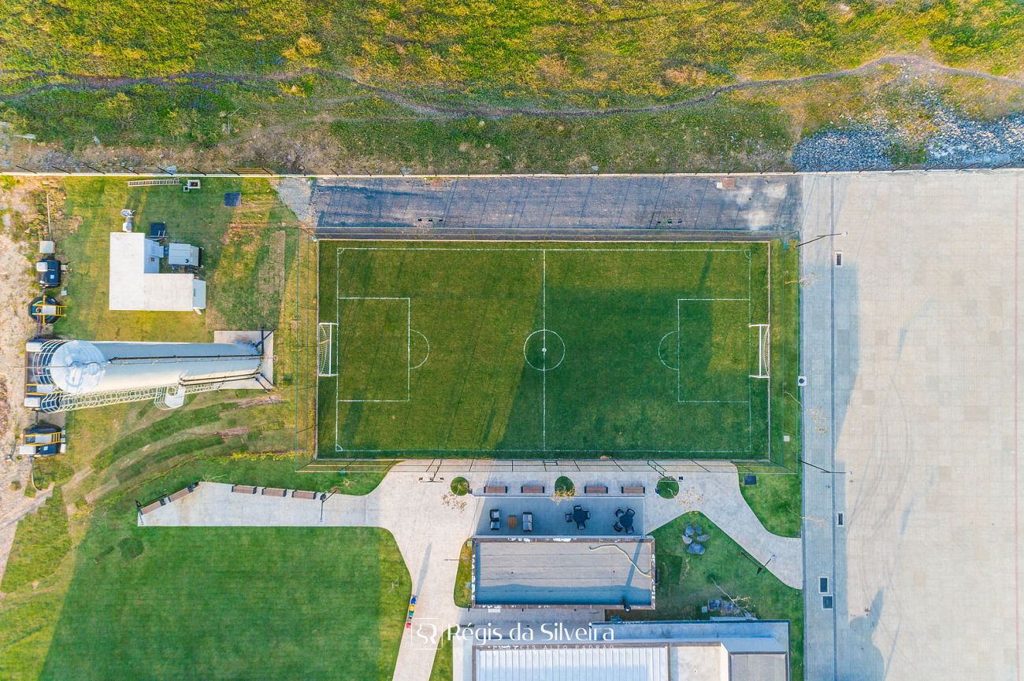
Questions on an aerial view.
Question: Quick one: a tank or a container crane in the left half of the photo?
tank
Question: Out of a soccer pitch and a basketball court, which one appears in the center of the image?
soccer pitch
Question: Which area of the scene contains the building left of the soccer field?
left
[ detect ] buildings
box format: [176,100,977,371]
[109,232,207,312]
[473,615,789,681]
[473,536,655,613]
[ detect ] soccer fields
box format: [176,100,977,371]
[316,237,771,462]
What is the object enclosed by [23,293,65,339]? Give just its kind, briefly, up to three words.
storage tank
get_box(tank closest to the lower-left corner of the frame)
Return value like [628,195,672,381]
[10,428,63,488]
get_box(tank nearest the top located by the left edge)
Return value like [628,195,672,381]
[24,260,61,288]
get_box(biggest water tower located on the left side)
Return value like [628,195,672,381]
[13,325,279,412]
